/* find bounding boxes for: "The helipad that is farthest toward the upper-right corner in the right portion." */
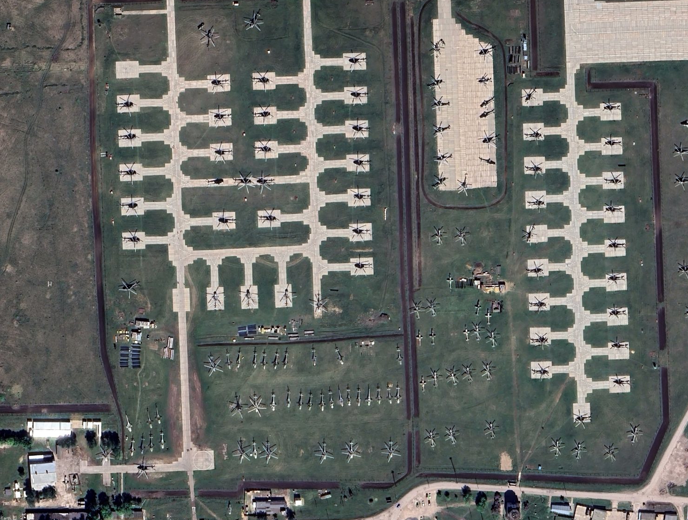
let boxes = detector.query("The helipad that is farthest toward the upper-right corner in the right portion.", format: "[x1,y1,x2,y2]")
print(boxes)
[600,104,622,121]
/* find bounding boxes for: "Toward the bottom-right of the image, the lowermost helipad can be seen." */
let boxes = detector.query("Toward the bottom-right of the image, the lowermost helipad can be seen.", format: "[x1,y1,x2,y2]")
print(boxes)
[572,403,590,422]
